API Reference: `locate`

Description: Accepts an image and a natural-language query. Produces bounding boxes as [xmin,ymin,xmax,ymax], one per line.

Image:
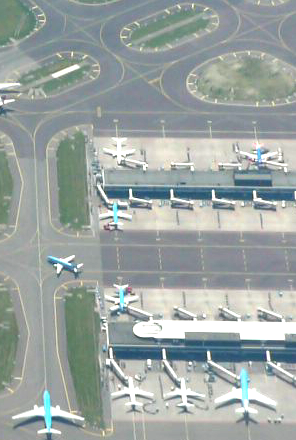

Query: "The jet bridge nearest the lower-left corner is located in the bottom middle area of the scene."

[109,349,129,382]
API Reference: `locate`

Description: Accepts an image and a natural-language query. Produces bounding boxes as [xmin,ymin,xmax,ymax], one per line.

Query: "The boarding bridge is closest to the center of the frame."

[128,190,153,208]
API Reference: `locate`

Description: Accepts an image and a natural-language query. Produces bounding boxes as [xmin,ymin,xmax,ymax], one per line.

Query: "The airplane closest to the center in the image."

[99,203,131,226]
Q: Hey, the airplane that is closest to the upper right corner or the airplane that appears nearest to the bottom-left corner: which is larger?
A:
the airplane that appears nearest to the bottom-left corner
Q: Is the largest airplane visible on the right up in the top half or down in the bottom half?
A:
bottom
